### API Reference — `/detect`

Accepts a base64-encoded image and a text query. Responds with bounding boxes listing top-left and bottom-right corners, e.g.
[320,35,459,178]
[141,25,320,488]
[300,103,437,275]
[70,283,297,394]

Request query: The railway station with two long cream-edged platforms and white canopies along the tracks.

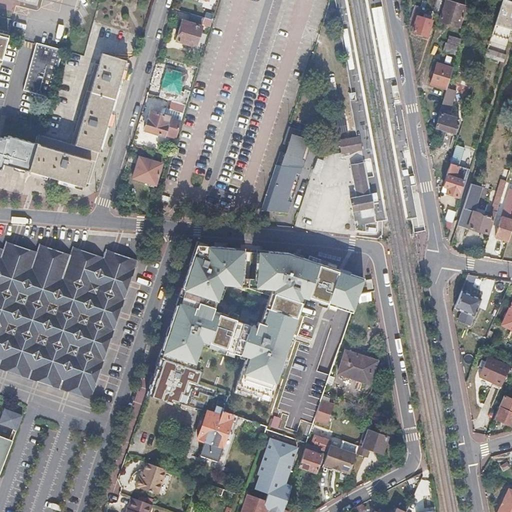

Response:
[337,0,426,232]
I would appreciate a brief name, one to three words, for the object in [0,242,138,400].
building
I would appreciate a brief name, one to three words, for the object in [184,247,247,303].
building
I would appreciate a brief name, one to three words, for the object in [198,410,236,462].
house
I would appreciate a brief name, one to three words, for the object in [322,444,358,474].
house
